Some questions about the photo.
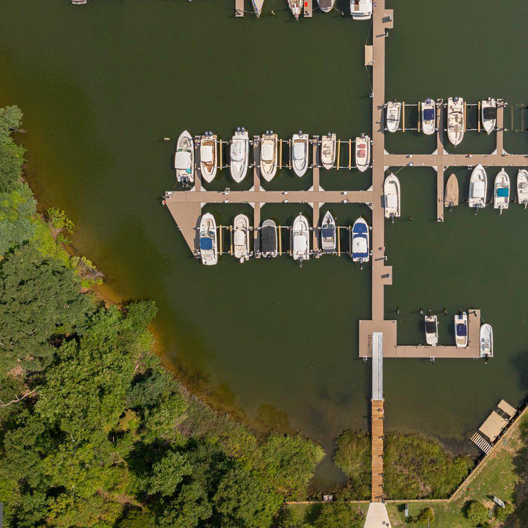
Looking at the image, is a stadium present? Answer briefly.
No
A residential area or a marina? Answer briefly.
marina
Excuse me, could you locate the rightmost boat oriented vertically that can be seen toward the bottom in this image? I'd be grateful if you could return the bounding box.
[479,324,493,366]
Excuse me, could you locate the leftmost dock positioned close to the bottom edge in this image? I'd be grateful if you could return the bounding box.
[370,398,384,503]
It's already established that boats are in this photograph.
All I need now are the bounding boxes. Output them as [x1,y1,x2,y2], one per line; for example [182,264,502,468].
[261,219,278,261]
[292,130,309,177]
[479,324,493,366]
[321,131,336,170]
[384,175,401,228]
[445,174,459,215]
[286,0,302,21]
[173,130,195,191]
[494,169,510,218]
[448,94,464,149]
[454,312,468,348]
[201,131,217,182]
[261,130,278,182]
[425,304,438,345]
[516,170,528,213]
[468,165,488,217]
[321,210,336,252]
[386,98,401,133]
[352,217,369,270]
[200,213,218,265]
[317,0,335,13]
[292,213,310,270]
[421,98,436,135]
[355,126,370,172]
[481,96,497,135]
[232,214,250,261]
[230,130,249,182]
[350,0,372,22]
